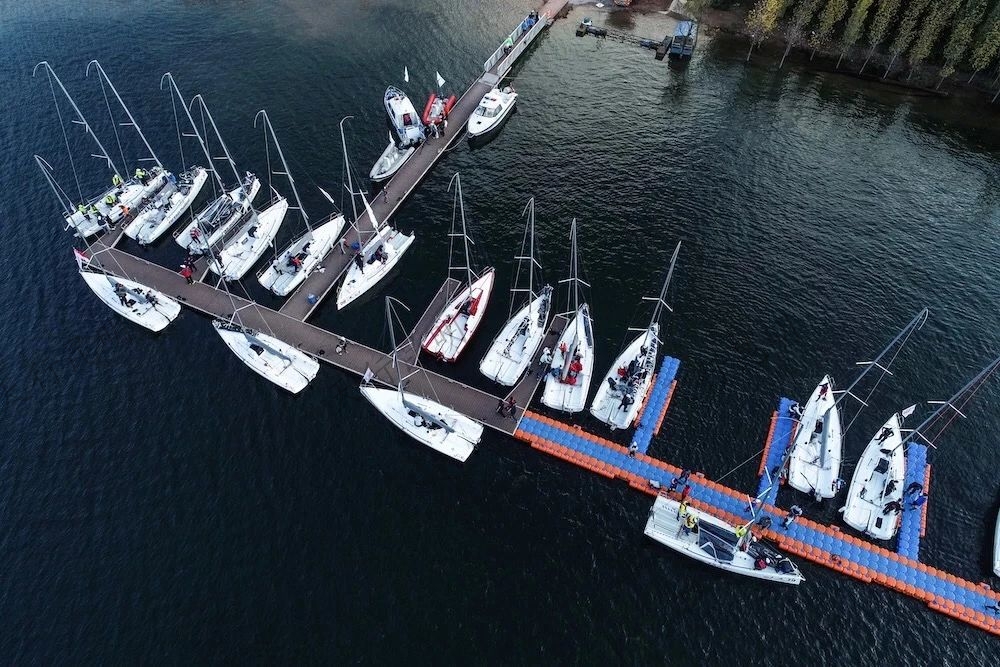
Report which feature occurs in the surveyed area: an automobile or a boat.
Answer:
boat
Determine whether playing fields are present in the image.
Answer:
No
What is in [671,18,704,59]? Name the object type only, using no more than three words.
boat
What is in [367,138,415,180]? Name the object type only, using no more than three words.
boat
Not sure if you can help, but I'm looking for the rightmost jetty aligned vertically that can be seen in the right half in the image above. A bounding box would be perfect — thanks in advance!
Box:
[895,448,930,562]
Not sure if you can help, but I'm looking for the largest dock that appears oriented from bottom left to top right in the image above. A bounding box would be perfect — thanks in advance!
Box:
[278,76,501,321]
